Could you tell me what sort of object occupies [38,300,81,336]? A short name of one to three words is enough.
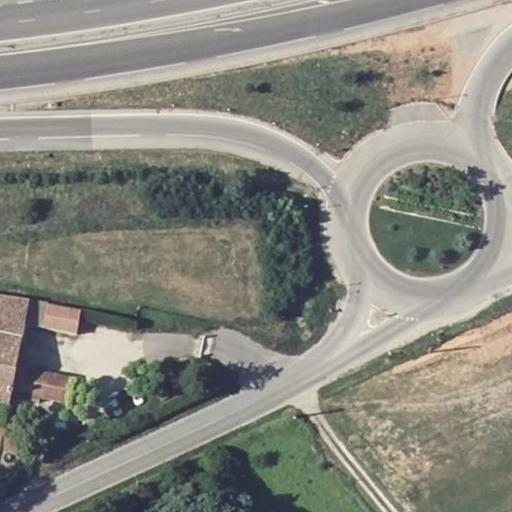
shed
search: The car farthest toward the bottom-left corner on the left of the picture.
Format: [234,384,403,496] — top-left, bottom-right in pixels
[109,392,122,416]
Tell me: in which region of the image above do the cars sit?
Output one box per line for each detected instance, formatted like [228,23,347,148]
[133,390,144,405]
[109,392,122,416]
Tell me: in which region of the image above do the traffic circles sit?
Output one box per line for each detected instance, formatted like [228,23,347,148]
[322,112,512,368]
